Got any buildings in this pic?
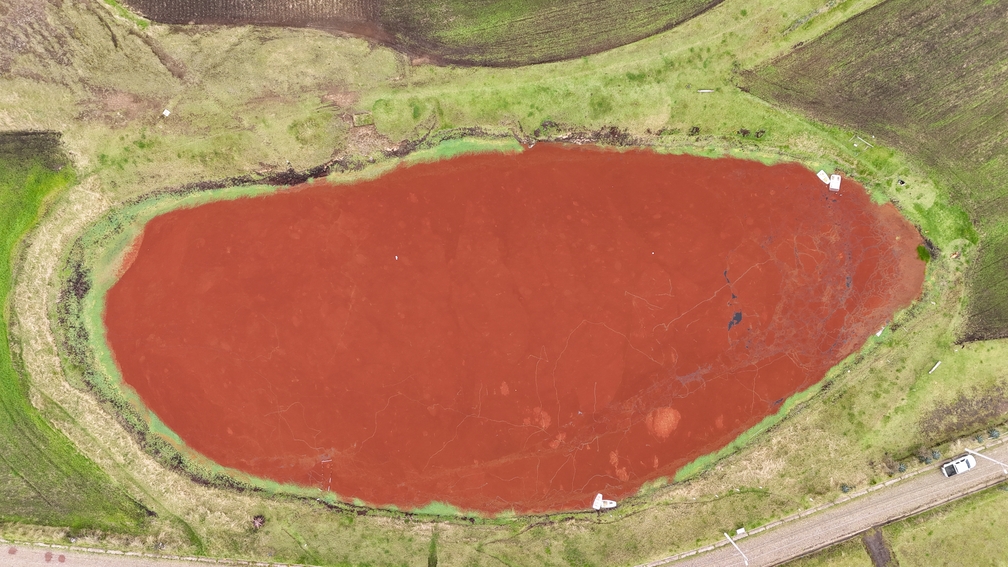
No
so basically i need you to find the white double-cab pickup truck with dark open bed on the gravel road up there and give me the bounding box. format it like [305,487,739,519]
[941,456,976,479]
